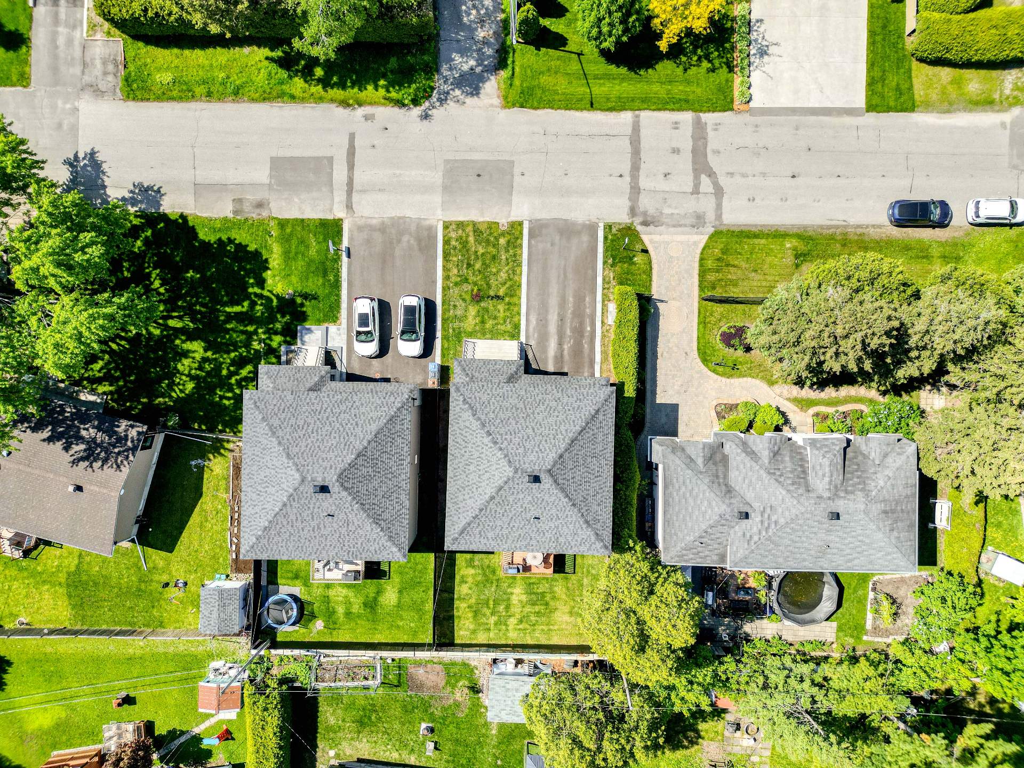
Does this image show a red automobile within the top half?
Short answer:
No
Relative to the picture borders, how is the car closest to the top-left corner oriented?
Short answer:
vertically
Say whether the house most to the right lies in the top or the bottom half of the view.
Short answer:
bottom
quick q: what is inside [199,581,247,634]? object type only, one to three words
shed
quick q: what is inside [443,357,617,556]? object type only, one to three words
house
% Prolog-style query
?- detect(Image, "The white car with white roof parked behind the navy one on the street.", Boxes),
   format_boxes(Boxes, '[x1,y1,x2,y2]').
[962,194,1024,226]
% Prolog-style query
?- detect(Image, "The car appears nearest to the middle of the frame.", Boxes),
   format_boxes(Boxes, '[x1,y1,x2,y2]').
[394,293,426,358]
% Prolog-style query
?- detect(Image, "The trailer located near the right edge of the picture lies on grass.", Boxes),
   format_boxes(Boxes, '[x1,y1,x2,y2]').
[979,547,1024,585]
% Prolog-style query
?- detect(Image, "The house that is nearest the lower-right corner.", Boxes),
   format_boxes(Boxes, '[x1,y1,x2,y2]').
[647,430,918,573]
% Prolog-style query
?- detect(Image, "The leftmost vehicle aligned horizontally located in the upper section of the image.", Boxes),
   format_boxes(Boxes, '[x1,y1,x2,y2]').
[883,195,951,228]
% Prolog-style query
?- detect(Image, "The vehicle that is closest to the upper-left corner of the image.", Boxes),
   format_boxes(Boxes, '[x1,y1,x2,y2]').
[349,294,380,357]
